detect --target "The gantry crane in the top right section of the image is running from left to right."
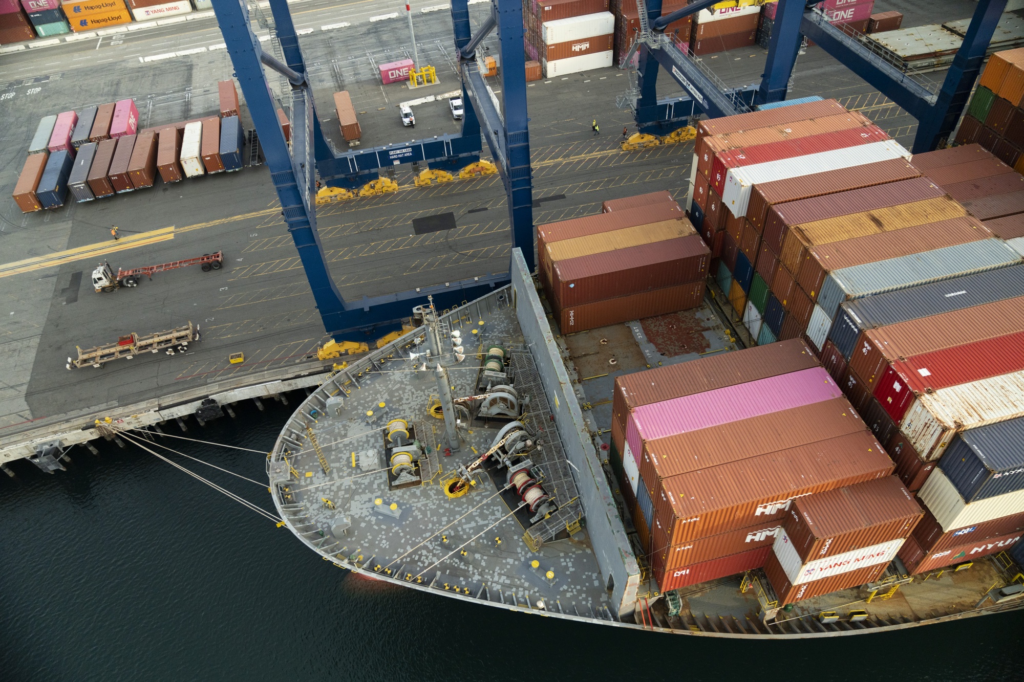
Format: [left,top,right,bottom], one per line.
[614,0,1013,150]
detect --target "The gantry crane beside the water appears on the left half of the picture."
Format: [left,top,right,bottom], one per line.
[208,0,538,362]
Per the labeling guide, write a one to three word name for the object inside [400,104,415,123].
car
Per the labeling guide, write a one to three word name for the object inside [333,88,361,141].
shipping container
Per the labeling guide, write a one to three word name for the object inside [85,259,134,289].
work vehicle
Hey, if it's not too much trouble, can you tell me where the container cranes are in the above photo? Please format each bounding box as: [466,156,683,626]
[208,0,538,362]
[614,0,1013,150]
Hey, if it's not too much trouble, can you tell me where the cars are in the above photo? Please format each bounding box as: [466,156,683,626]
[450,95,462,115]
[400,104,415,123]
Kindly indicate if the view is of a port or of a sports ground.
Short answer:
port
